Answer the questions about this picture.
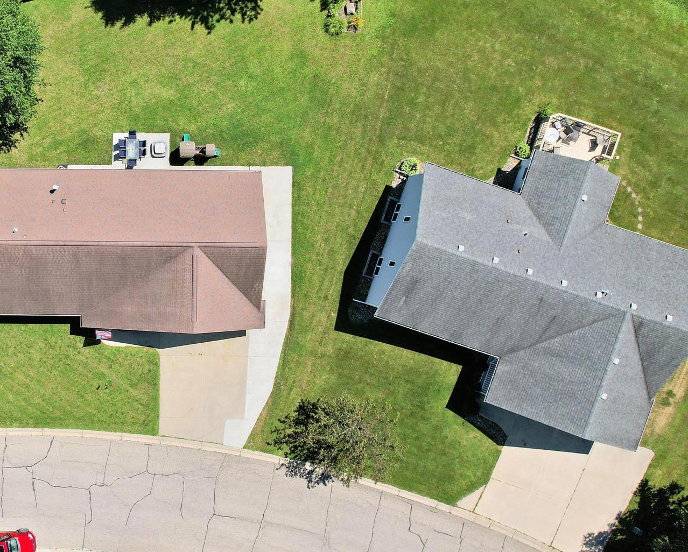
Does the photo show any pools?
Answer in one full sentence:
No, there's no pool here.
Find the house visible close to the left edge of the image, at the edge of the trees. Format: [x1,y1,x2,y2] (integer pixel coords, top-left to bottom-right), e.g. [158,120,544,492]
[0,166,267,333]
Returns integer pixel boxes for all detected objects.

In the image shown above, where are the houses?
[346,149,688,453]
[0,166,267,333]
